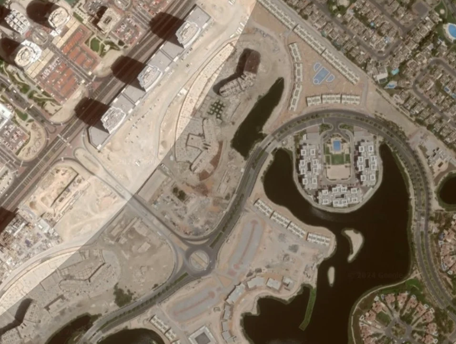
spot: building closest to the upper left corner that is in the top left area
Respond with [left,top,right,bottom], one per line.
[5,8,35,35]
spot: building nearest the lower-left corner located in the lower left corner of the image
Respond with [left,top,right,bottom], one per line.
[1,307,38,339]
